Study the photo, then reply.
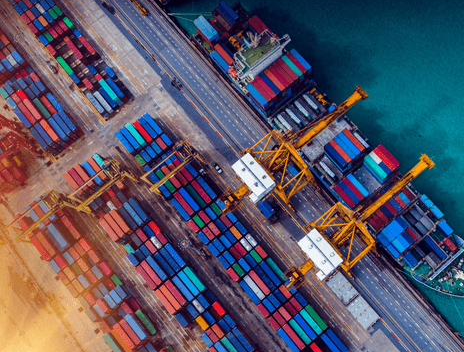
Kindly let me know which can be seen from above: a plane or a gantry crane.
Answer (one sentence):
The image shows a gantry crane.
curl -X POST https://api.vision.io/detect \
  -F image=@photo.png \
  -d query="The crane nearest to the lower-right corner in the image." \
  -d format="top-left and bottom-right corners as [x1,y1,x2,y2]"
[282,155,430,288]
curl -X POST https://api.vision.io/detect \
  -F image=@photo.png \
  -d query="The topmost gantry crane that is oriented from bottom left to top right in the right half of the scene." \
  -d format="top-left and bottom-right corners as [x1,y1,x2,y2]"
[217,89,364,214]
